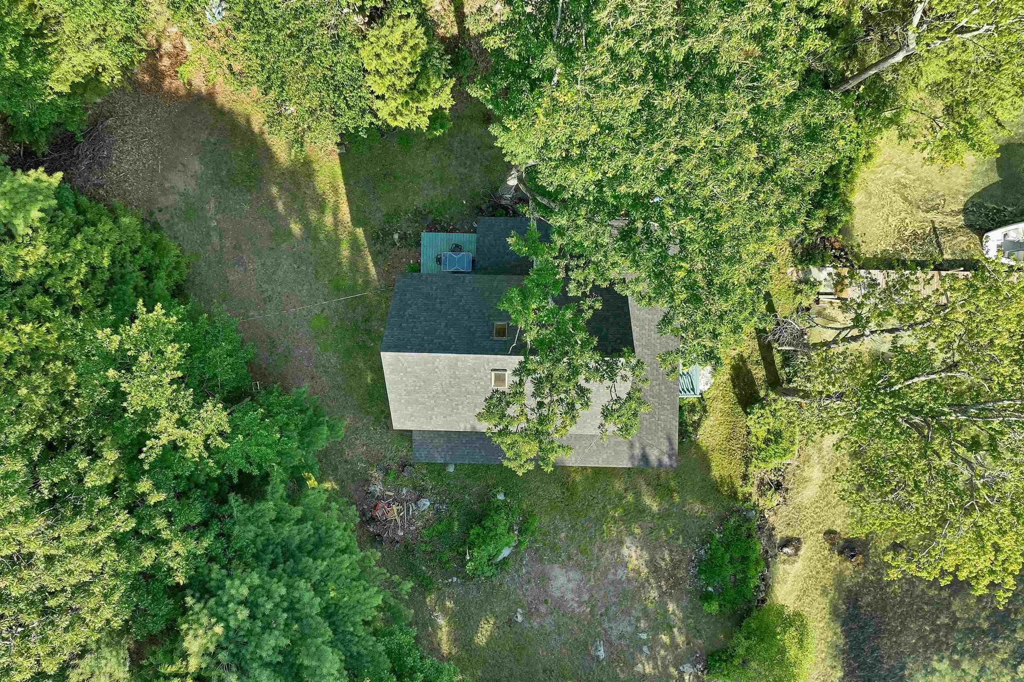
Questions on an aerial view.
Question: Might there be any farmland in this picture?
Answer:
No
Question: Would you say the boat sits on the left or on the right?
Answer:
right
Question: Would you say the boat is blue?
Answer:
No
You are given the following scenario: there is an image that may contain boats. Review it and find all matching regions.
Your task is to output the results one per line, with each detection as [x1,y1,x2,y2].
[988,218,1024,262]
